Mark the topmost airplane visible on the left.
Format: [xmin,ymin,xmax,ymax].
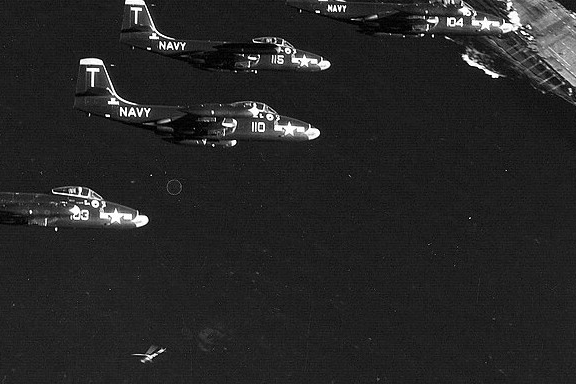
[119,0,331,74]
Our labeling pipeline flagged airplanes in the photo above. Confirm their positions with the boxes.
[0,186,149,231]
[119,0,331,74]
[287,0,515,40]
[73,58,319,148]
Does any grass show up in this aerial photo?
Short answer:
No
